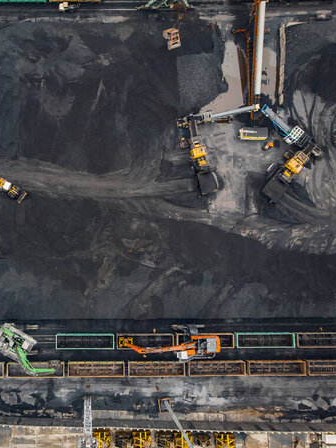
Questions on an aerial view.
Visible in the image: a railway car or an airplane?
railway car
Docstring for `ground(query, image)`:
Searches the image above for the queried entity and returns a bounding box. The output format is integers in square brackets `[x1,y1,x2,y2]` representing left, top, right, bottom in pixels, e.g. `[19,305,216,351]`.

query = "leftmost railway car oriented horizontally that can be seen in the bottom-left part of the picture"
[6,360,67,377]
